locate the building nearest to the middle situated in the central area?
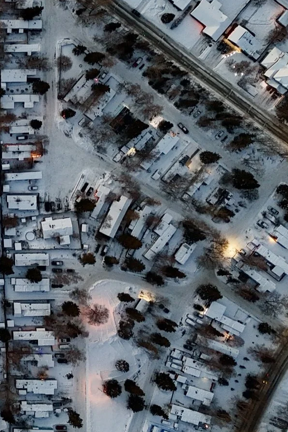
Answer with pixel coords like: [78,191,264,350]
[126,210,152,237]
